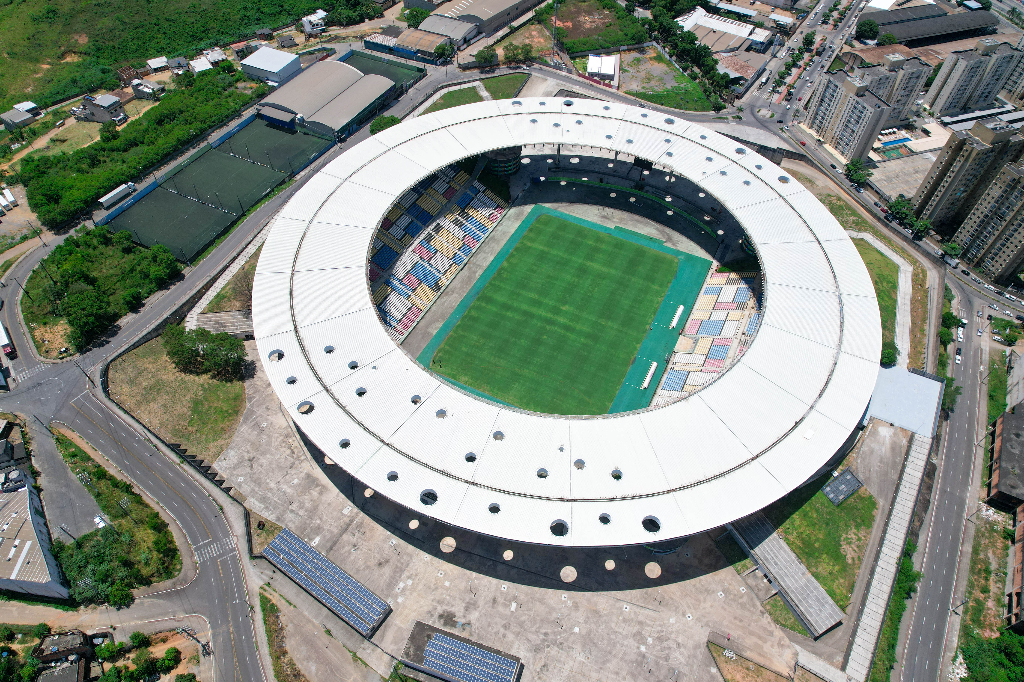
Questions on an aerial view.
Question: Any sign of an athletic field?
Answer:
Yes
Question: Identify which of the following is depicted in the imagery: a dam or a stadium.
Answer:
stadium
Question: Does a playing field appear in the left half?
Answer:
Yes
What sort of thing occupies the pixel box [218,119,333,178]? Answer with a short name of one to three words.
sports field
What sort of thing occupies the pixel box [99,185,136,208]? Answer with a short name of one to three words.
truck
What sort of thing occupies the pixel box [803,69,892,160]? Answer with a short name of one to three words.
building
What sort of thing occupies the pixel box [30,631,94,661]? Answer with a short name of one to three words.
house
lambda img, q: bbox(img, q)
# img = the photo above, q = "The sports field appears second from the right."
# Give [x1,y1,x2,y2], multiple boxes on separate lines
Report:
[339,55,419,87]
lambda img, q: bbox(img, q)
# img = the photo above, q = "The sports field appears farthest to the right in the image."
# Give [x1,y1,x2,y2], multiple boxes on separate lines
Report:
[430,214,679,415]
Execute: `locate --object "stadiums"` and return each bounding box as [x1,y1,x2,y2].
[251,97,886,561]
